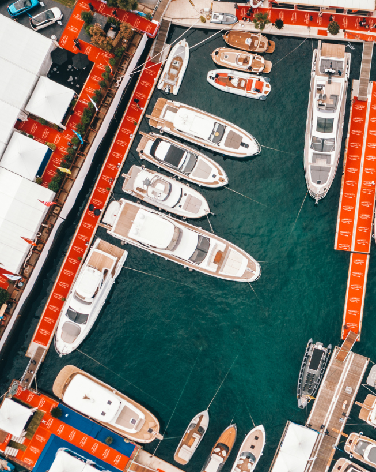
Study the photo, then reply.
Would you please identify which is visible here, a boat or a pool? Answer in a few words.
boat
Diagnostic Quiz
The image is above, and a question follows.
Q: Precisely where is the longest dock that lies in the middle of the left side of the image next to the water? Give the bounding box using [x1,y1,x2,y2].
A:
[26,42,172,357]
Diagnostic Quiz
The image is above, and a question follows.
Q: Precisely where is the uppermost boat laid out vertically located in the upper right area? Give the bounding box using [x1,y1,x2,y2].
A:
[303,42,350,204]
